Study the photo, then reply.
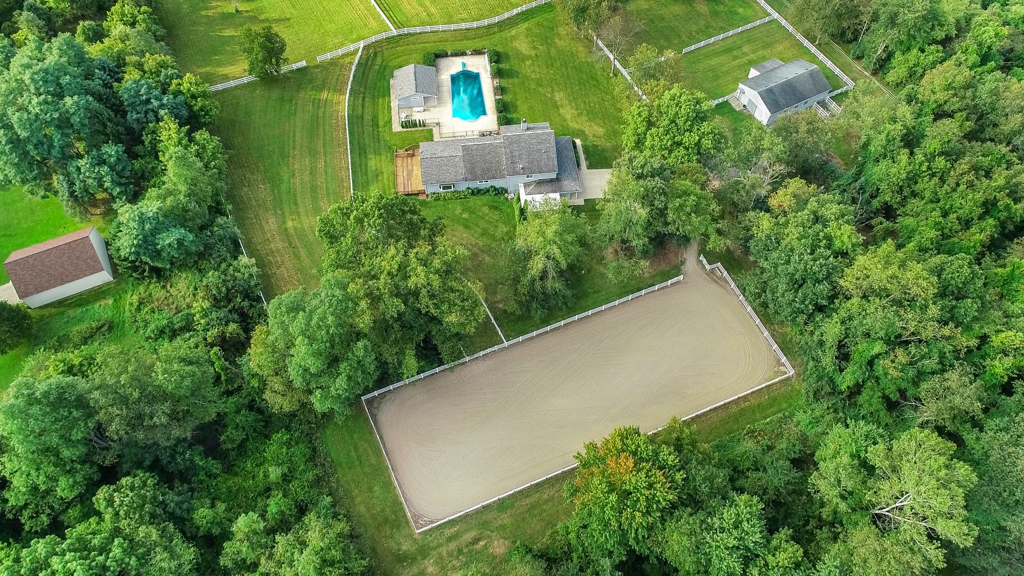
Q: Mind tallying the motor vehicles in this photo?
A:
zero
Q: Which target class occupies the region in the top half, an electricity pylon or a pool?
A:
pool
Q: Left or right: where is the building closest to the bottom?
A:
left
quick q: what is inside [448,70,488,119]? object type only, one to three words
swimming pool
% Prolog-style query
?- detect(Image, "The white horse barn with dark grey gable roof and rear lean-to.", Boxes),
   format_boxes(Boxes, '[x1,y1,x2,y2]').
[734,56,831,124]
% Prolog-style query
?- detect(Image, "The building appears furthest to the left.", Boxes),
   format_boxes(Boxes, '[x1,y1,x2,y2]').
[4,227,110,307]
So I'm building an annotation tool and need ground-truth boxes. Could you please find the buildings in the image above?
[734,56,831,124]
[396,63,439,106]
[420,119,582,217]
[4,227,110,307]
